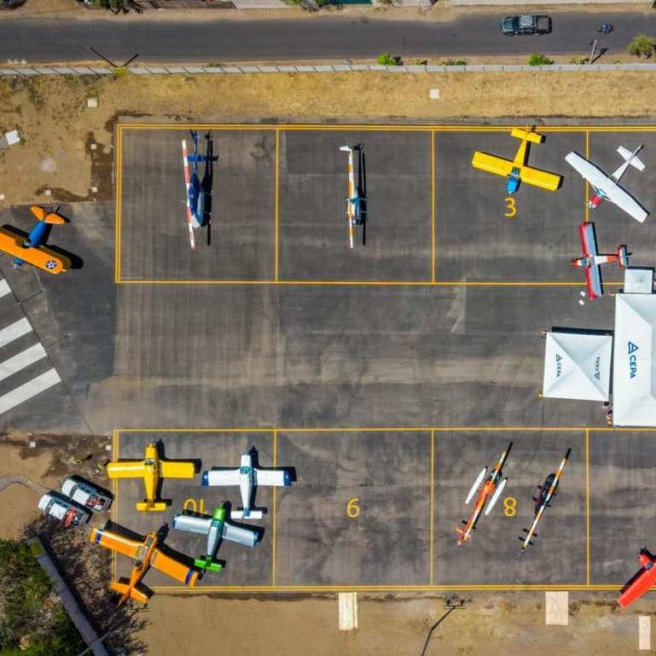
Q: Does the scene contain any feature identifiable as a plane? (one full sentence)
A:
Yes, there's a plane down there.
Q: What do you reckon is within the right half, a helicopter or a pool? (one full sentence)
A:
There is a helicopter within the right half.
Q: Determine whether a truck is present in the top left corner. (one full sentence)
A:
No, no truck is visible in the top left corner.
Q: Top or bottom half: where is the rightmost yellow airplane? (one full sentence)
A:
Seen from above, the rightmost yellow airplane lies in the top half of the view.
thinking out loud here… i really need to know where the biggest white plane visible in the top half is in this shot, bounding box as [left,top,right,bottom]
[566,148,648,223]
